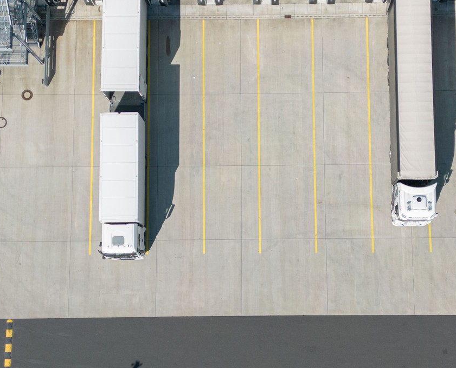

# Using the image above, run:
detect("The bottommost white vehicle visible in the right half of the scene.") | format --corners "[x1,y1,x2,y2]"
[389,163,439,226]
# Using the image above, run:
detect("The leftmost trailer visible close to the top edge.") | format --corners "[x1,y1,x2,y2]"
[101,0,149,123]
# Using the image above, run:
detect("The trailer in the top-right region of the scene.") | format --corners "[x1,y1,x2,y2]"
[385,0,438,188]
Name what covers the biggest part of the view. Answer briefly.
paved ground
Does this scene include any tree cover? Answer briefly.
No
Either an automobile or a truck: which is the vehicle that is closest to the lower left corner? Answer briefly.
truck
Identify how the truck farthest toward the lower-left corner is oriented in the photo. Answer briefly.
up and down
